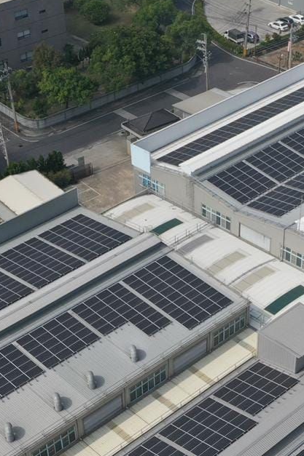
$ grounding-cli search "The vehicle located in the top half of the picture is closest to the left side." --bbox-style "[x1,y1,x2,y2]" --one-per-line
[221,25,249,42]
